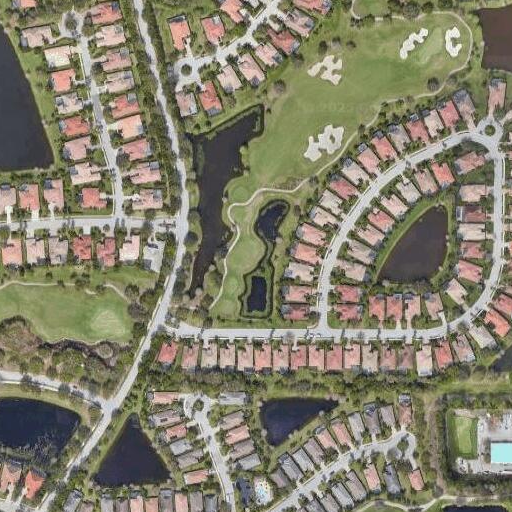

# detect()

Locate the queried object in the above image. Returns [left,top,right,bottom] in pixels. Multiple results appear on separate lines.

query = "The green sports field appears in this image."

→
[448,412,478,459]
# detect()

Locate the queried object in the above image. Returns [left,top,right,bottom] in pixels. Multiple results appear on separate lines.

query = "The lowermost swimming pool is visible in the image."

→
[254,477,274,505]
